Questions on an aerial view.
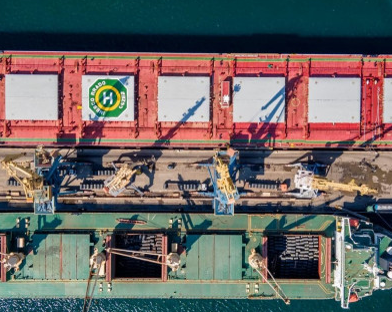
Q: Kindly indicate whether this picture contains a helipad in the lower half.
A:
No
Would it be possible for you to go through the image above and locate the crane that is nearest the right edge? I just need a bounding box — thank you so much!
[280,162,380,196]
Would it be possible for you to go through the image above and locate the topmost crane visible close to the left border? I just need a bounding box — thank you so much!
[0,150,75,213]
